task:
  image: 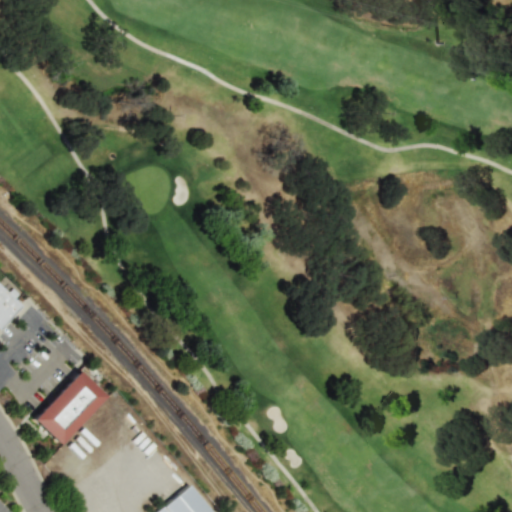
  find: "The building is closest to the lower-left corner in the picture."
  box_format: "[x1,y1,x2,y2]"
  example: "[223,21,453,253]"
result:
[36,373,108,444]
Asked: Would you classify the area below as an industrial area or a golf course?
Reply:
golf course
